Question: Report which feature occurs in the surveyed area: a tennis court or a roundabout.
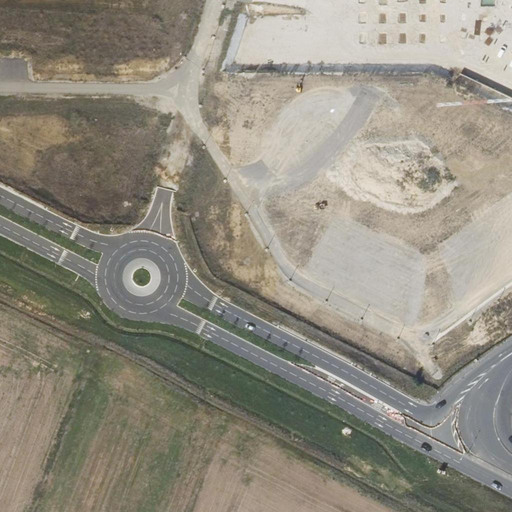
roundabout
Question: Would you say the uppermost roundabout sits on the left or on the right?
left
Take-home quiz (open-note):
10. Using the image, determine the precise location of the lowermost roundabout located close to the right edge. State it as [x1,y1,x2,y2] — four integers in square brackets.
[470,340,512,484]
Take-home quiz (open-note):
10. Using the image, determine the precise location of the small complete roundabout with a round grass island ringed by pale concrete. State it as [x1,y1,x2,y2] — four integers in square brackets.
[96,232,188,322]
